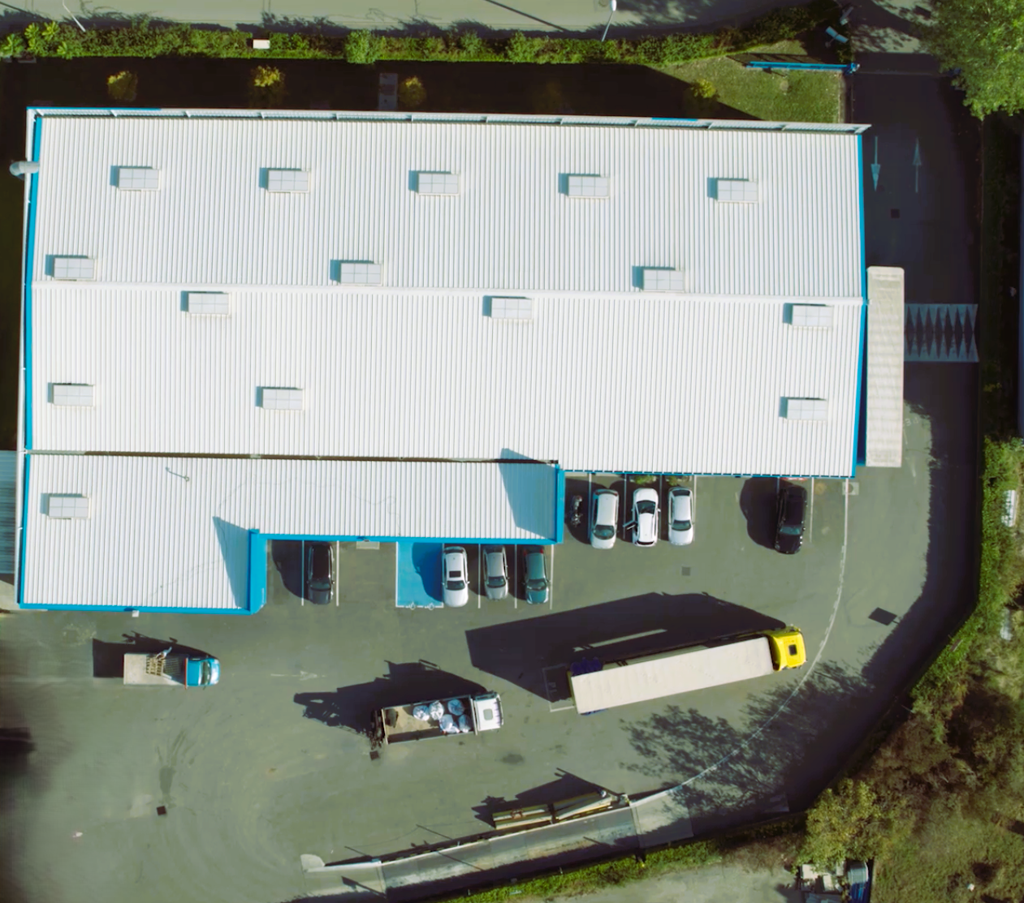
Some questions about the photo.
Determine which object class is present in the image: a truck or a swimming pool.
truck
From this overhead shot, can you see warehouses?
Yes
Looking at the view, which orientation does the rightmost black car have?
up and down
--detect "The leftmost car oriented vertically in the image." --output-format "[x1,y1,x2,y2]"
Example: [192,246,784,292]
[306,540,337,604]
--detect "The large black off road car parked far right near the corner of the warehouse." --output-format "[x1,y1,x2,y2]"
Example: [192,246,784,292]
[773,483,807,553]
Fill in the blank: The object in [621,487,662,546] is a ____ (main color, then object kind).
white car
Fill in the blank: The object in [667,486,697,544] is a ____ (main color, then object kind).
white car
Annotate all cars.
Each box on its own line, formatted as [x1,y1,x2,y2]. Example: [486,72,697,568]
[621,487,662,546]
[667,486,697,544]
[482,544,510,600]
[773,483,807,553]
[521,545,551,603]
[306,540,337,604]
[440,544,471,608]
[590,488,620,548]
